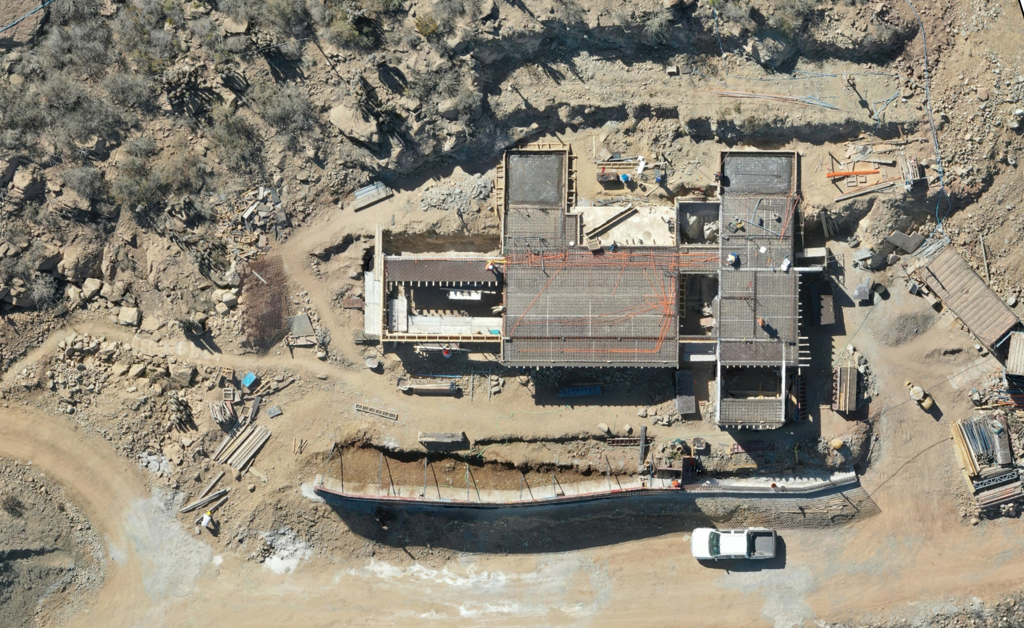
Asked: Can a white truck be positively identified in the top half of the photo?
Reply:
No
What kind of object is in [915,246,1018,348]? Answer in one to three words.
shed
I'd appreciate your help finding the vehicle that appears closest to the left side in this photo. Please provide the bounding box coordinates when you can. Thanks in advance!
[692,528,778,564]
